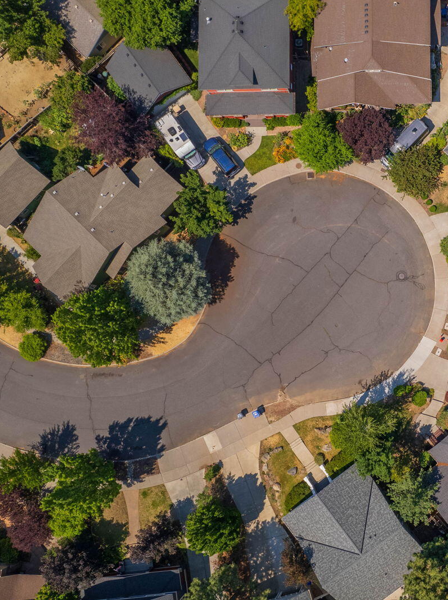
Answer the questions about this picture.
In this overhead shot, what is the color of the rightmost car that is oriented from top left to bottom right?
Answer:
blue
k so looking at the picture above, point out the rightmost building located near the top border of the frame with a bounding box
[314,0,441,114]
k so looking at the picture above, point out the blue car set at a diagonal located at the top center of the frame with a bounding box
[203,136,241,180]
